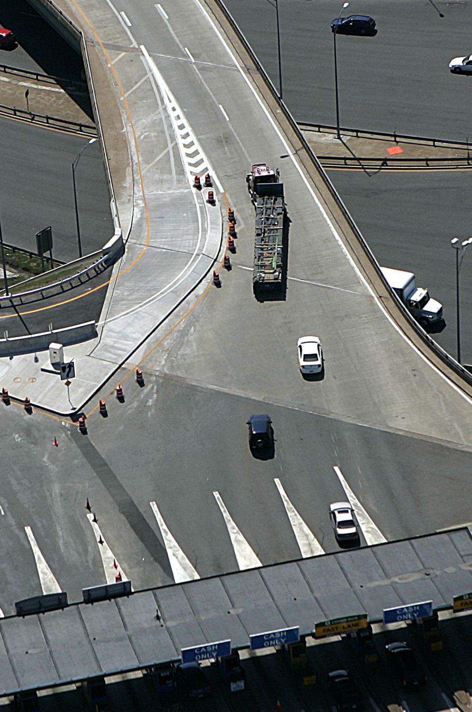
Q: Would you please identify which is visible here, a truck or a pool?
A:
truck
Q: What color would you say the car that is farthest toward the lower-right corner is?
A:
black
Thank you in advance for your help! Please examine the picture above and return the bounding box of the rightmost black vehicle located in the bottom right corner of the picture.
[378,636,424,686]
